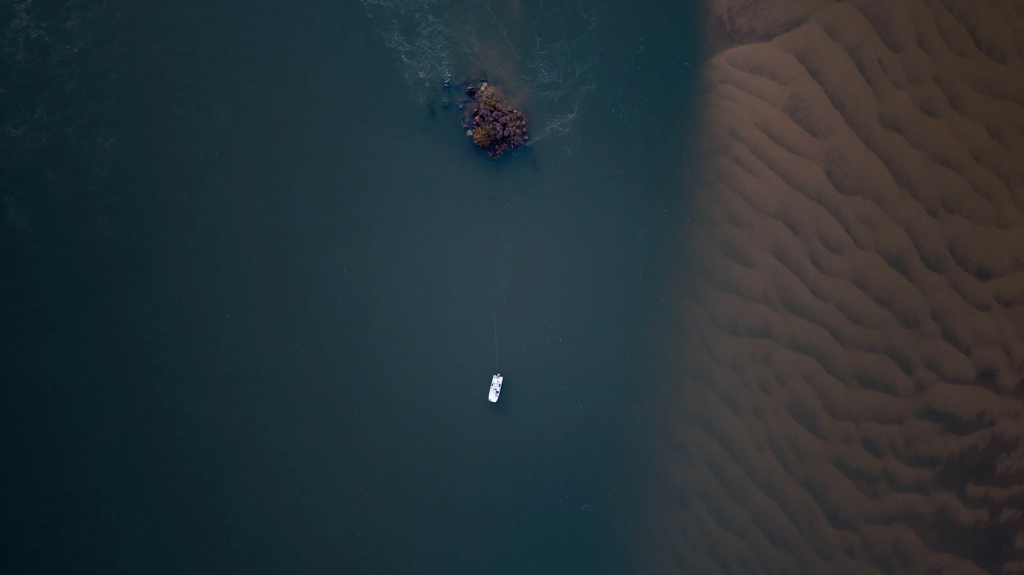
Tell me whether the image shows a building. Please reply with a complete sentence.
No, no building can be seen from above.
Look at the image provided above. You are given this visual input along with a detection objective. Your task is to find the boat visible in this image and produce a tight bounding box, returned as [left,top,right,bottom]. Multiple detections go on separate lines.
[489,374,503,403]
